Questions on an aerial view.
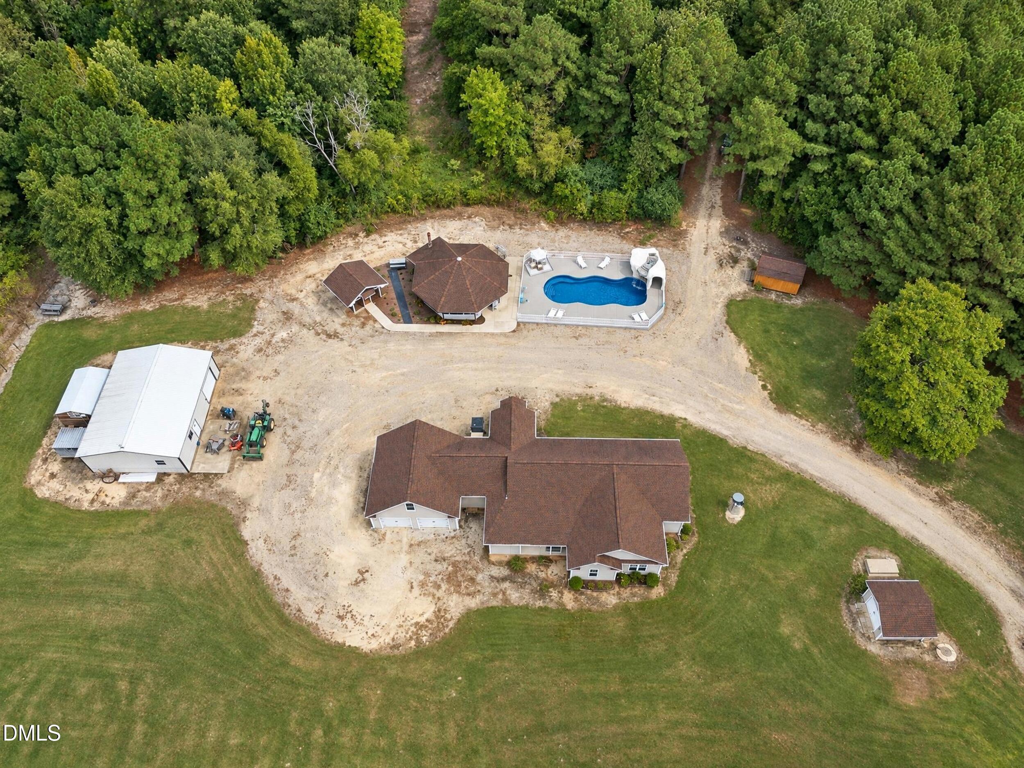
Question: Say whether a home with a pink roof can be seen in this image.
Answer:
No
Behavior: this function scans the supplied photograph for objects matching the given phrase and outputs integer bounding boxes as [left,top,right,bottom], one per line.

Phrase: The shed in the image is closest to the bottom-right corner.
[858,580,939,648]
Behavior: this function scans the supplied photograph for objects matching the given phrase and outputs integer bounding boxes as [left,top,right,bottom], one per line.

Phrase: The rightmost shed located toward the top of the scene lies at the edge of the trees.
[752,248,807,299]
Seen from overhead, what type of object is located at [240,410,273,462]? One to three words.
work vehicle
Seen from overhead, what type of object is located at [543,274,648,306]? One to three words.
swimming pool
